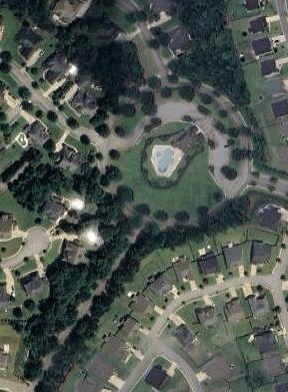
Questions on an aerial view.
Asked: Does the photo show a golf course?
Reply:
No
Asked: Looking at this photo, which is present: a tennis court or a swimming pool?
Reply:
swimming pool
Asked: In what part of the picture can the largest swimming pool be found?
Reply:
center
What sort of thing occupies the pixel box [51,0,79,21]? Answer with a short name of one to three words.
house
